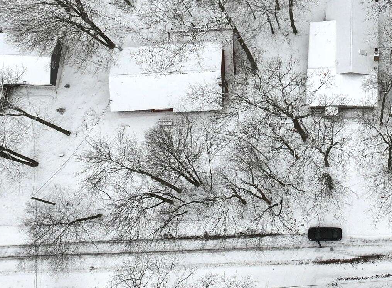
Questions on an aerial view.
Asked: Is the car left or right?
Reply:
right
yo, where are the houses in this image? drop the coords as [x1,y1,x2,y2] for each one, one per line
[0,35,64,89]
[112,43,233,117]
[306,0,385,117]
